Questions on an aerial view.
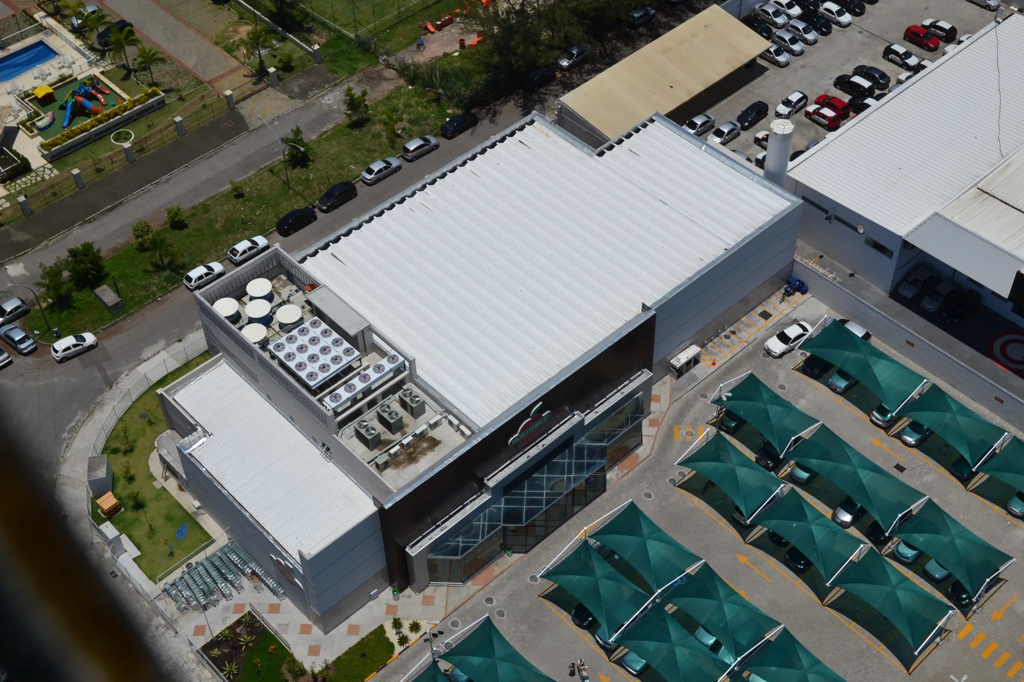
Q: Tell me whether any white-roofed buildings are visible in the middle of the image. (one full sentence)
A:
Yes, a white-roofed building appears in the middle of the image.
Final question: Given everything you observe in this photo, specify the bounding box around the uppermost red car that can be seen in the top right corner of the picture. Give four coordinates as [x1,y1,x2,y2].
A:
[902,25,942,52]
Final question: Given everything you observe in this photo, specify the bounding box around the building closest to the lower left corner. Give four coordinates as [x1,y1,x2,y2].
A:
[86,454,112,496]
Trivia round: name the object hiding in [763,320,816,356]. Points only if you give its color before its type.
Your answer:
white car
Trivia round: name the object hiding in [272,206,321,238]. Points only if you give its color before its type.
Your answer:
black car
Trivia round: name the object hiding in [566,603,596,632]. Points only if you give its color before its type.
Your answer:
black car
